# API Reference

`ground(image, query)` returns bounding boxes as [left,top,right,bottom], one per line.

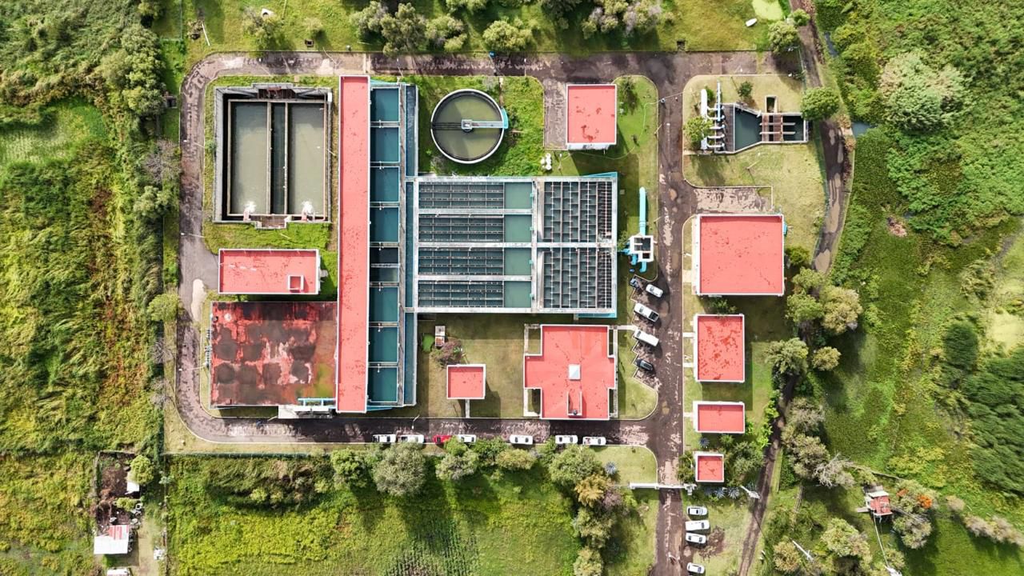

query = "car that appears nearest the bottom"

[686,561,705,574]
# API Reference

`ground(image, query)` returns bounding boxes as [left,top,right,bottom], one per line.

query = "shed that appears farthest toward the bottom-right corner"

[848,481,891,517]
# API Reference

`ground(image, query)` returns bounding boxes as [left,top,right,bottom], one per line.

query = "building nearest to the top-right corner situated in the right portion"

[694,214,790,296]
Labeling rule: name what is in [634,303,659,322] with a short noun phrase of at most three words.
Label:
vehicle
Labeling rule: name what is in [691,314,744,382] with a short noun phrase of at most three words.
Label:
building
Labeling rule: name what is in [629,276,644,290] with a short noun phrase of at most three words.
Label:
car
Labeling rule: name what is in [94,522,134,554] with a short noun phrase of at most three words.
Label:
shed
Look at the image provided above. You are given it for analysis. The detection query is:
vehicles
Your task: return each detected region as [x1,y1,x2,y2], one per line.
[434,434,453,443]
[644,282,665,298]
[629,276,644,290]
[555,434,577,445]
[373,433,397,444]
[458,434,477,443]
[635,358,654,373]
[686,506,707,517]
[633,328,658,347]
[634,303,659,322]
[510,434,532,444]
[401,433,425,444]
[684,519,710,531]
[686,561,705,574]
[582,435,605,445]
[685,533,706,545]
